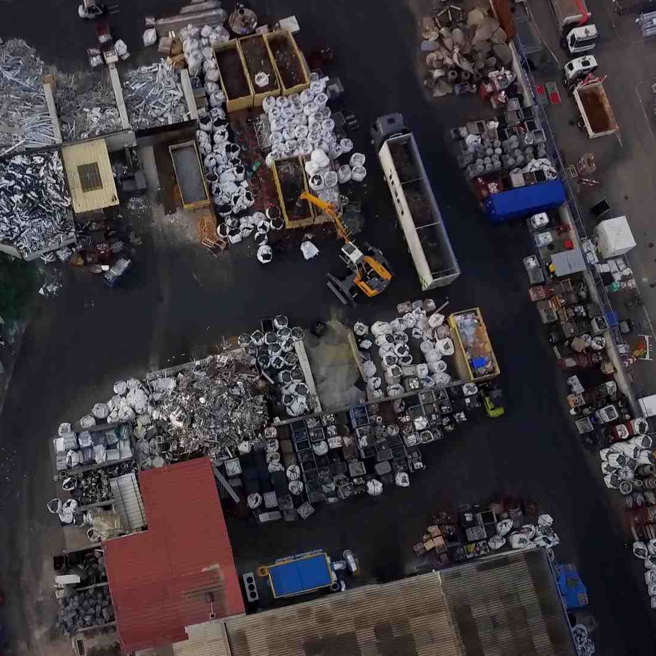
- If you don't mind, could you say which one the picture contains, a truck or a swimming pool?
truck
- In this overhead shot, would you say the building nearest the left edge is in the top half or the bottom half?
top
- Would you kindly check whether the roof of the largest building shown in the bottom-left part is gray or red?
red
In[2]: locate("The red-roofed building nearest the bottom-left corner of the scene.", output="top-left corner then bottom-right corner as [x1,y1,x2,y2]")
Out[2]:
[102,457,246,654]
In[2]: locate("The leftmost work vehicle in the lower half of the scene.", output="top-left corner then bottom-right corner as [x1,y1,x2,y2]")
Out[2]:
[472,382,503,419]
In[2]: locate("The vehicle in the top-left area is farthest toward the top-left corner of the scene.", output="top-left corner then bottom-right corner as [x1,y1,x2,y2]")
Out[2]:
[77,0,114,21]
